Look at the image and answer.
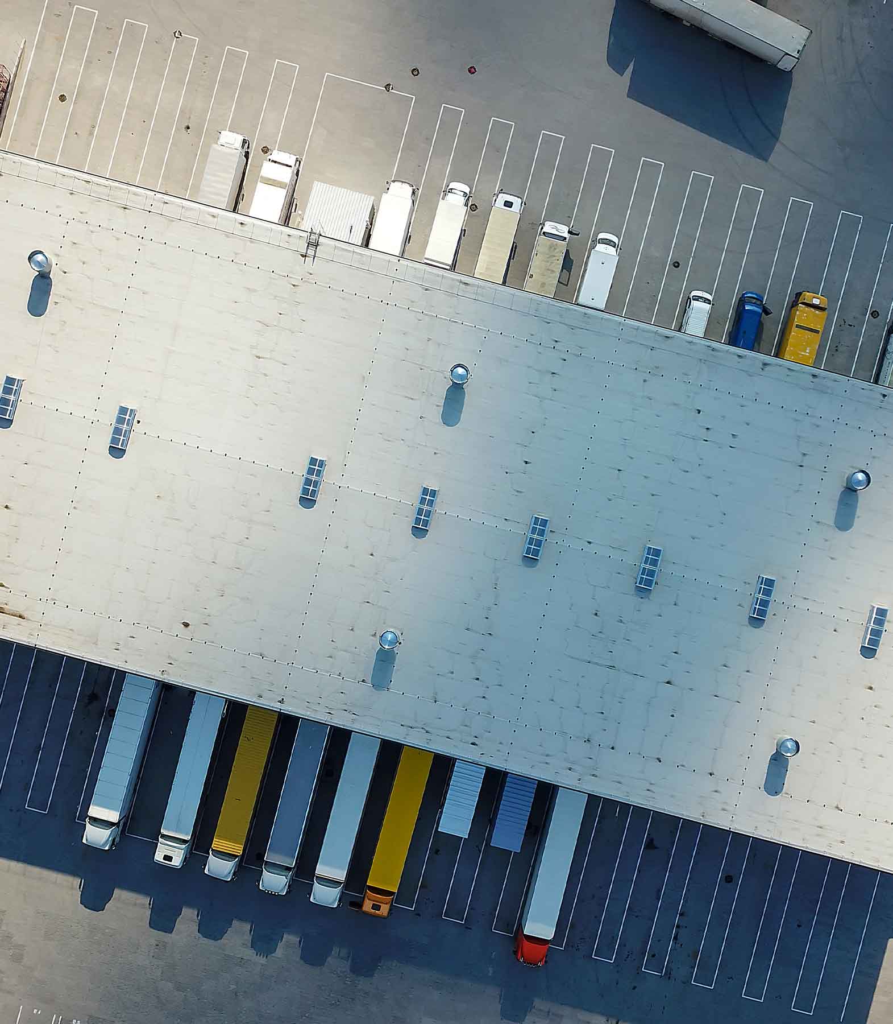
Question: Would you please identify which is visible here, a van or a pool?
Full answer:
Visible in the photo is a van.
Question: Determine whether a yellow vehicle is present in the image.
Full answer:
Yes, looking at the shot, I can spot a yellow vehicle.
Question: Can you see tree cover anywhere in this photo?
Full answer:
No, there is no tree cover in the image.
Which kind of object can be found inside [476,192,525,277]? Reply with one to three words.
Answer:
truck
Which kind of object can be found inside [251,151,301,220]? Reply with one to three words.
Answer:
truck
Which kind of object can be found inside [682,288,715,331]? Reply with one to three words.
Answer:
van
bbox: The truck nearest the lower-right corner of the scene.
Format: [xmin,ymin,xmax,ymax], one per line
[511,787,591,965]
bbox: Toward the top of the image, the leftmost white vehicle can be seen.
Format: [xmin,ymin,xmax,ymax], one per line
[198,131,251,206]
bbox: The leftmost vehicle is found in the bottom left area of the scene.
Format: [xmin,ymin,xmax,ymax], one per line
[84,673,164,848]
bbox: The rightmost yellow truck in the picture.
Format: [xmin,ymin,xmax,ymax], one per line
[780,292,828,360]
